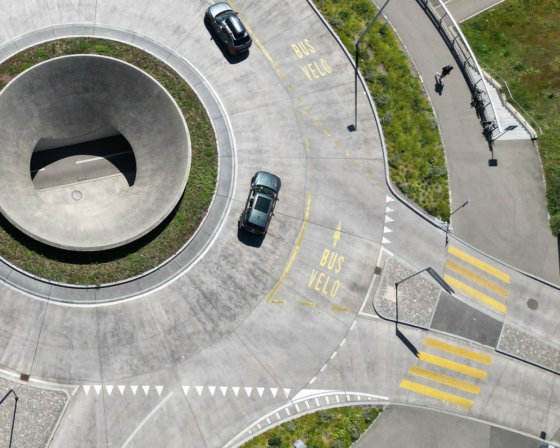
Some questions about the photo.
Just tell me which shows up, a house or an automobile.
automobile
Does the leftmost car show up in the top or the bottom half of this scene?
top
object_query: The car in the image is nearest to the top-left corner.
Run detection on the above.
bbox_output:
[208,3,251,54]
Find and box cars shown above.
[208,3,251,54]
[240,173,279,234]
